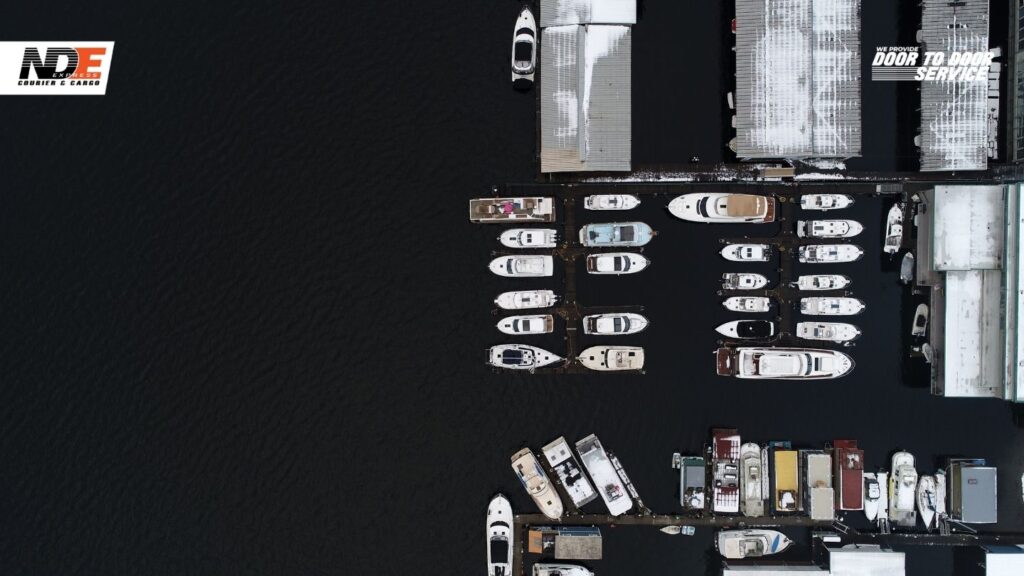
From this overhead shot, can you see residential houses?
Yes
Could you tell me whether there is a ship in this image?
Yes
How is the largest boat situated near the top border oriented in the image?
from top to bottom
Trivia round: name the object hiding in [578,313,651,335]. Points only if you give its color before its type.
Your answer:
white boat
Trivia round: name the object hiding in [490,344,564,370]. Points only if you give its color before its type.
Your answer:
white boat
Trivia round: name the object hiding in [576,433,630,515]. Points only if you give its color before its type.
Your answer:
white ship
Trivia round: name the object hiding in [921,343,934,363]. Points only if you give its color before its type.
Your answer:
gray boat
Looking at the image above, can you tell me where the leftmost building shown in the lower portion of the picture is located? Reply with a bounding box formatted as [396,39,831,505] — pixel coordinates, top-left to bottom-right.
[529,527,602,560]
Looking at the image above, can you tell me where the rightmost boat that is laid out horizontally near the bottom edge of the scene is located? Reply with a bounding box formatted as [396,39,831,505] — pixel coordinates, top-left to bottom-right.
[716,528,793,558]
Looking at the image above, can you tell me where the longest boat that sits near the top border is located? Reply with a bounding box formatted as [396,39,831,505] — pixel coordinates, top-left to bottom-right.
[512,5,537,95]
